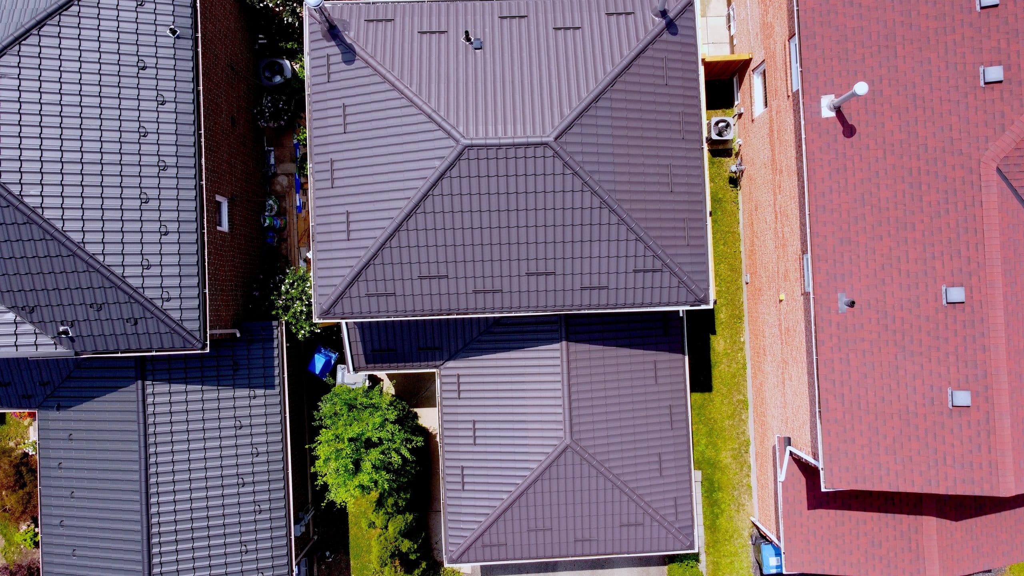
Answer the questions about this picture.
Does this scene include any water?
No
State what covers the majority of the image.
buildings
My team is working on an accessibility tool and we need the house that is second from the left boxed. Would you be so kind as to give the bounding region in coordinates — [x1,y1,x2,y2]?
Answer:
[303,0,711,566]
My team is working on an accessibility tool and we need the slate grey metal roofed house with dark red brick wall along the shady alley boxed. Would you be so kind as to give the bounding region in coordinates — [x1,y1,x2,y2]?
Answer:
[0,0,319,576]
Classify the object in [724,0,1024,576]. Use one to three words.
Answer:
house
